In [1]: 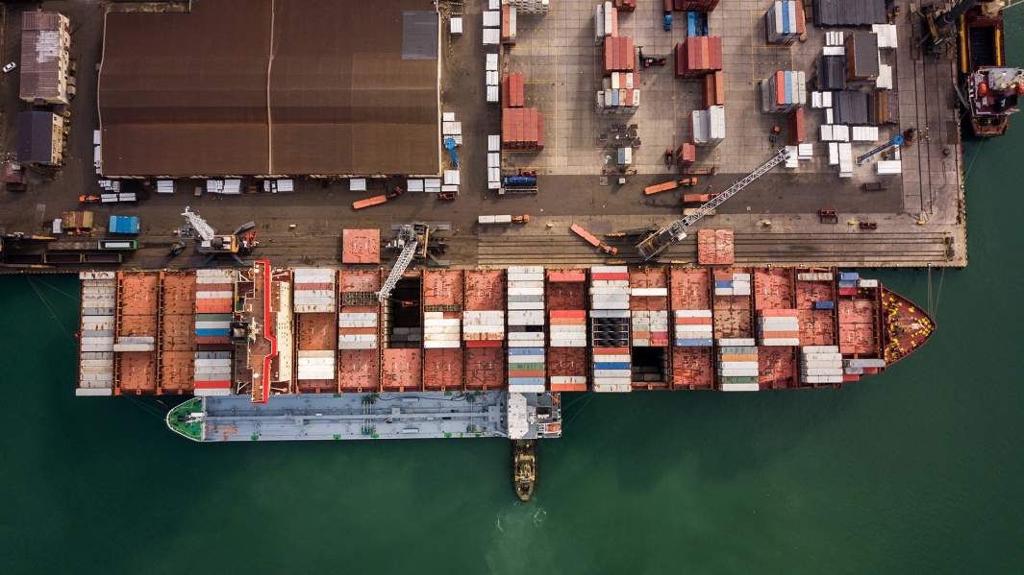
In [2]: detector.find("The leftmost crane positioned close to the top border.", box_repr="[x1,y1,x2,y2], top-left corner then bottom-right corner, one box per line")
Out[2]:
[910,0,985,55]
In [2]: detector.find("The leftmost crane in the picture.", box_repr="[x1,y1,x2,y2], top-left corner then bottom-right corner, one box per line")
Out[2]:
[175,209,264,262]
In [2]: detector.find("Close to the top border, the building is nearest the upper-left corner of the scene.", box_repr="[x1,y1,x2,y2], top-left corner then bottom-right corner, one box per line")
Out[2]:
[19,10,79,104]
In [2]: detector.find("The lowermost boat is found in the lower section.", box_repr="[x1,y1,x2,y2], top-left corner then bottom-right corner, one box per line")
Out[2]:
[511,440,539,502]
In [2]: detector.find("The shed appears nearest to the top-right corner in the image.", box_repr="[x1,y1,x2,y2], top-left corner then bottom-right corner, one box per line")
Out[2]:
[846,32,879,81]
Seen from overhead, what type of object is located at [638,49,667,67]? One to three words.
work vehicle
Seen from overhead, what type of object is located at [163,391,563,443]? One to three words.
ship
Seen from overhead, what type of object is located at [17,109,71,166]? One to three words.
building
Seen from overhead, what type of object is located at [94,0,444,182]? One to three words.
warehouse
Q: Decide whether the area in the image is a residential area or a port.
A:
port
